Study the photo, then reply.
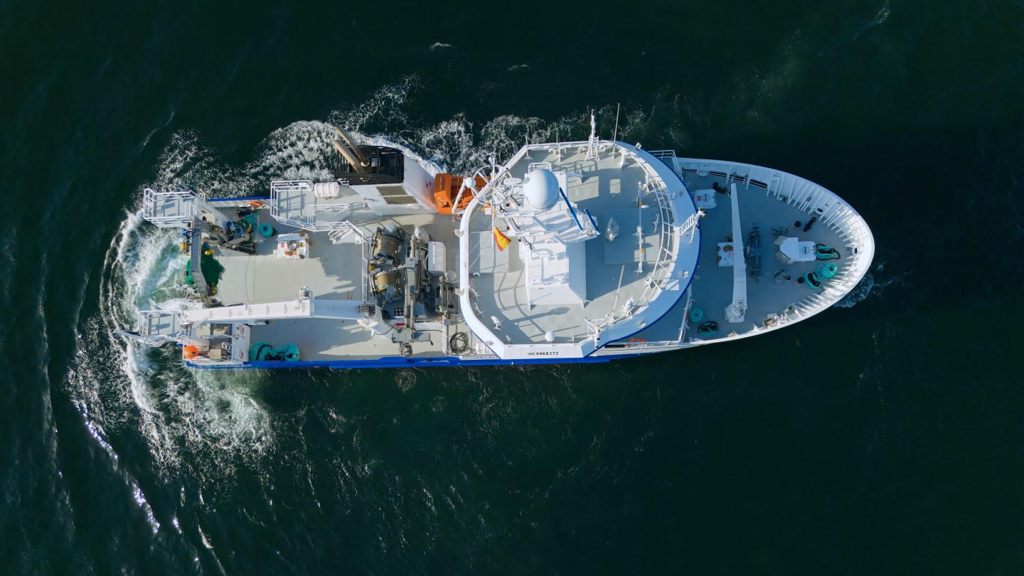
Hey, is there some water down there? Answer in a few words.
Yes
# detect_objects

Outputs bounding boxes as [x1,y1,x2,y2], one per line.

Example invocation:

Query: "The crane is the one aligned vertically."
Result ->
[724,183,752,324]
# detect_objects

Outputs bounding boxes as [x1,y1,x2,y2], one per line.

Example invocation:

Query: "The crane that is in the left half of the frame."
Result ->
[180,286,398,340]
